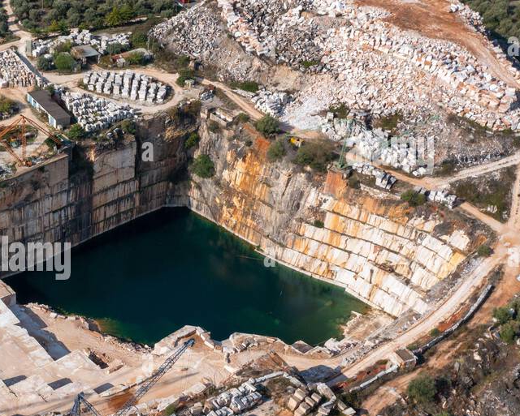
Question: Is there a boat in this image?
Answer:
No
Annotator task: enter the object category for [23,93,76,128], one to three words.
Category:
shed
